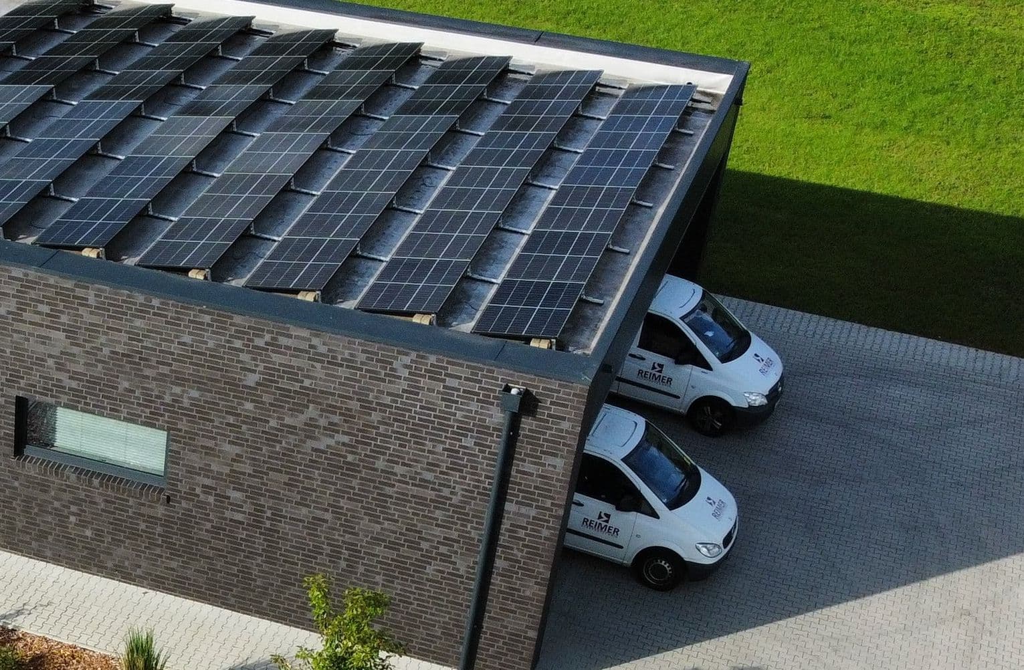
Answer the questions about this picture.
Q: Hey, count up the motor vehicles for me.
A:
2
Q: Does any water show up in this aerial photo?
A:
No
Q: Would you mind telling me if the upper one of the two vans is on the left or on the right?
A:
right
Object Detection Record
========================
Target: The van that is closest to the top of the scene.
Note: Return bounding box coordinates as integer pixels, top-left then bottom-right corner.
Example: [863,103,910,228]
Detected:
[605,274,785,435]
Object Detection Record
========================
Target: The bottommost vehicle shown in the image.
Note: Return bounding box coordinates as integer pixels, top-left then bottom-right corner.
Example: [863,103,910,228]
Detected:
[563,404,741,588]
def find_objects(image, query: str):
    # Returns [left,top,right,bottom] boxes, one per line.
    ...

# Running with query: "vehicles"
[605,274,785,435]
[563,404,741,588]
